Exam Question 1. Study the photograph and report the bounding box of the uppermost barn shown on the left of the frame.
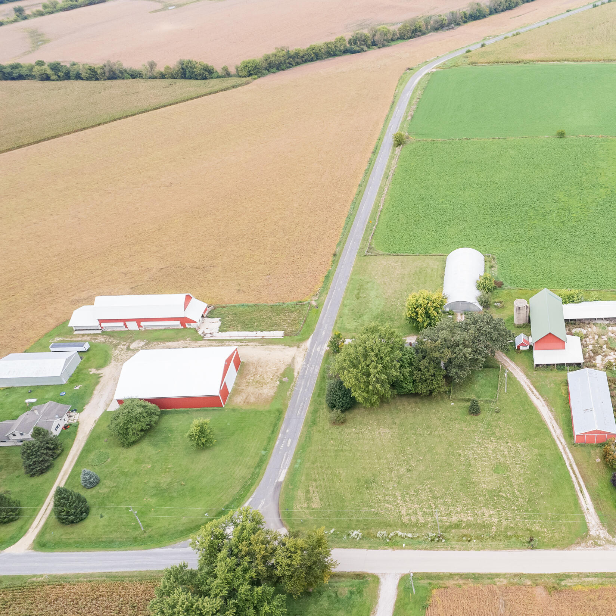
[67,293,206,332]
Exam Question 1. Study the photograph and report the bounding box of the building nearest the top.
[444,247,484,310]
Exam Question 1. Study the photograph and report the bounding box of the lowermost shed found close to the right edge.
[567,367,616,444]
